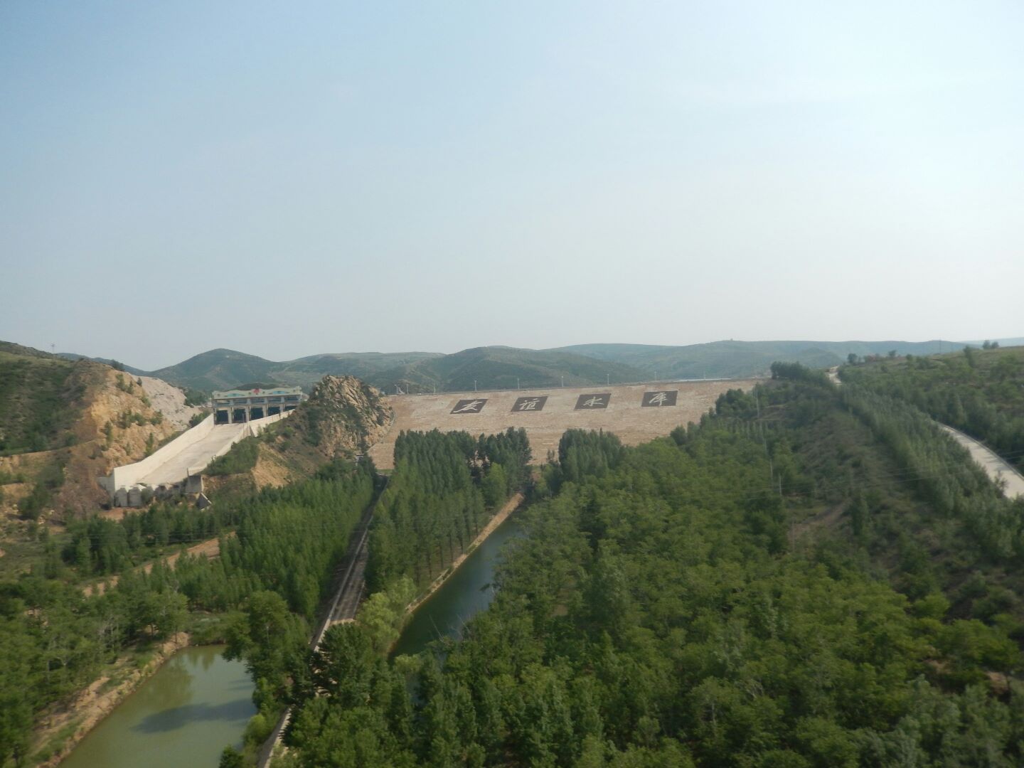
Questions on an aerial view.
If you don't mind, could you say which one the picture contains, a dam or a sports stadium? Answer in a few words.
dam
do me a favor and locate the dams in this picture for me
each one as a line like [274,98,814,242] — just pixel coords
[371,376,771,461]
